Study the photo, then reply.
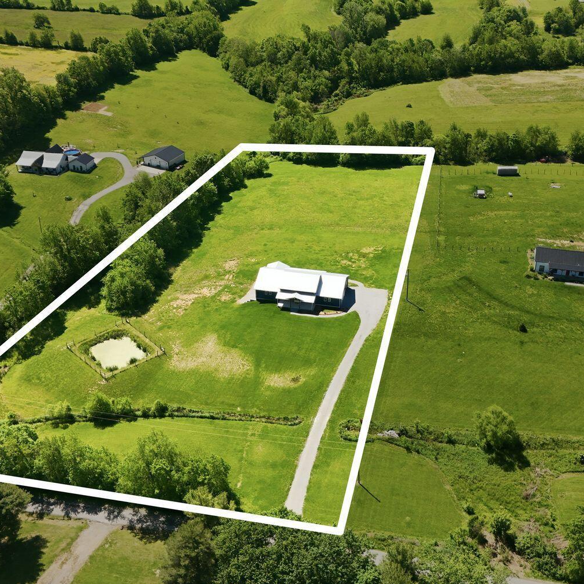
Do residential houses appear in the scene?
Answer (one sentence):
Yes, the picture does show a residential house.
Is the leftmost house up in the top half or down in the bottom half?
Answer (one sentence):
The leftmost house sits in the top half of the picture.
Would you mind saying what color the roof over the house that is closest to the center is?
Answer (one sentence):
The color of the roof on the house that is closest to the center is white.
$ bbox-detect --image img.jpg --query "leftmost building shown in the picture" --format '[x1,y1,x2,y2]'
[16,144,73,175]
